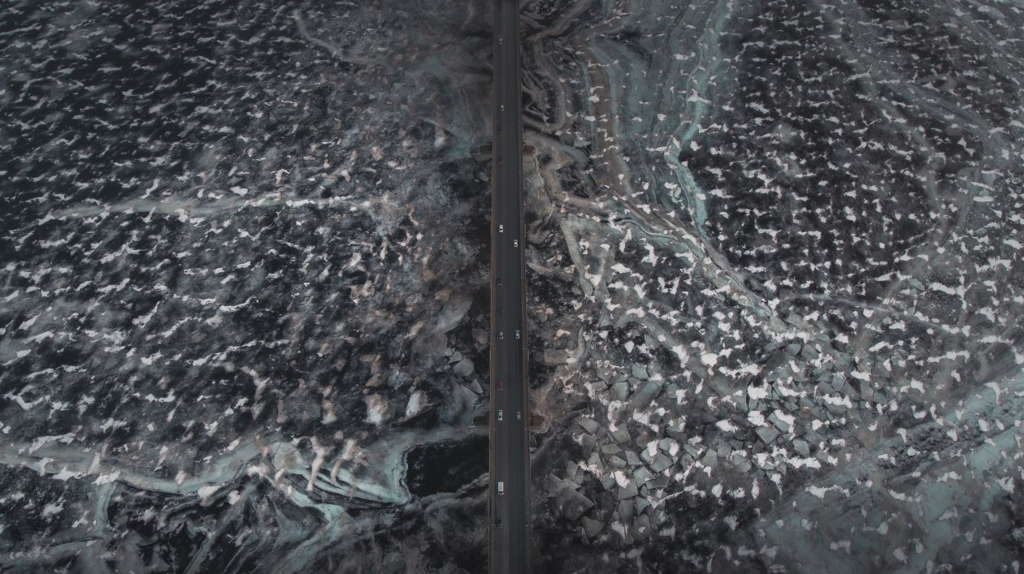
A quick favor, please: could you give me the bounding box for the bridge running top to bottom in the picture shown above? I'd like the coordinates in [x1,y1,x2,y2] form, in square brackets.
[474,0,545,574]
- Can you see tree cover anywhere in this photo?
No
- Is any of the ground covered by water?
Yes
